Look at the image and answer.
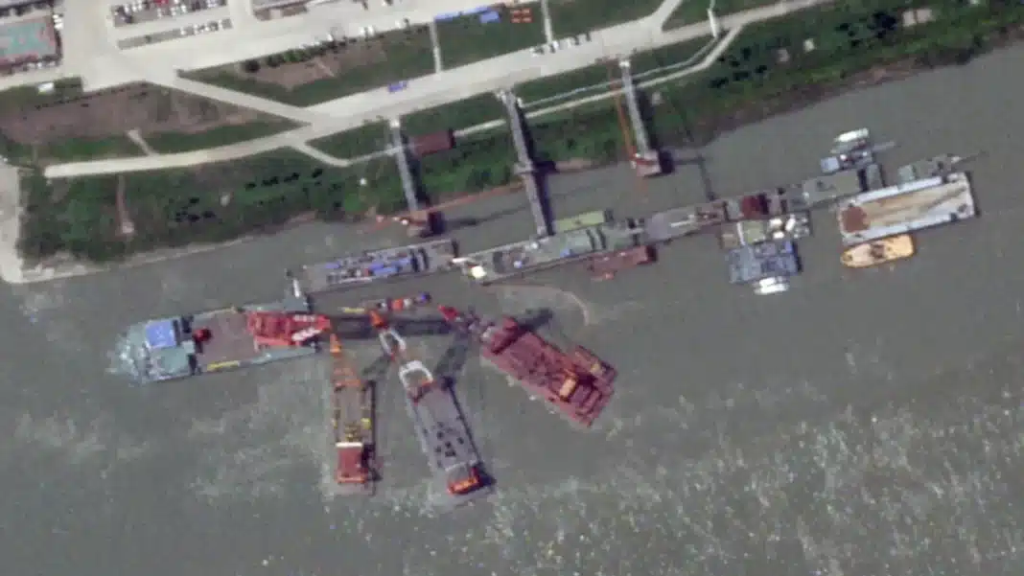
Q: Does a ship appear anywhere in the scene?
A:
Yes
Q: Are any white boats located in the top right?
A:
Yes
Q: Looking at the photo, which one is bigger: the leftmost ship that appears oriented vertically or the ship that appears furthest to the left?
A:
the ship that appears furthest to the left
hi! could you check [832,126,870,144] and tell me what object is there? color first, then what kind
white boat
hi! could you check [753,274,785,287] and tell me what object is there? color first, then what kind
white boat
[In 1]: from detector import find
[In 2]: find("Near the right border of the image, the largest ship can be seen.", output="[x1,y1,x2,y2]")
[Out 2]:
[838,172,975,245]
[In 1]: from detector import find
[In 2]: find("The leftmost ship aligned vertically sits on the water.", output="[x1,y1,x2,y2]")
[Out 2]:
[331,336,373,490]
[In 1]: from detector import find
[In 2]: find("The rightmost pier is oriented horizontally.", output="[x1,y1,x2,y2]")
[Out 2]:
[804,170,861,206]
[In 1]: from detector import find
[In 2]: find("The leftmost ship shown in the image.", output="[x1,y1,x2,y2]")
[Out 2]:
[114,296,333,382]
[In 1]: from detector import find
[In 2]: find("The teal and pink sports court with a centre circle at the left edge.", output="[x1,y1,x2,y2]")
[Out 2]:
[0,15,58,62]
